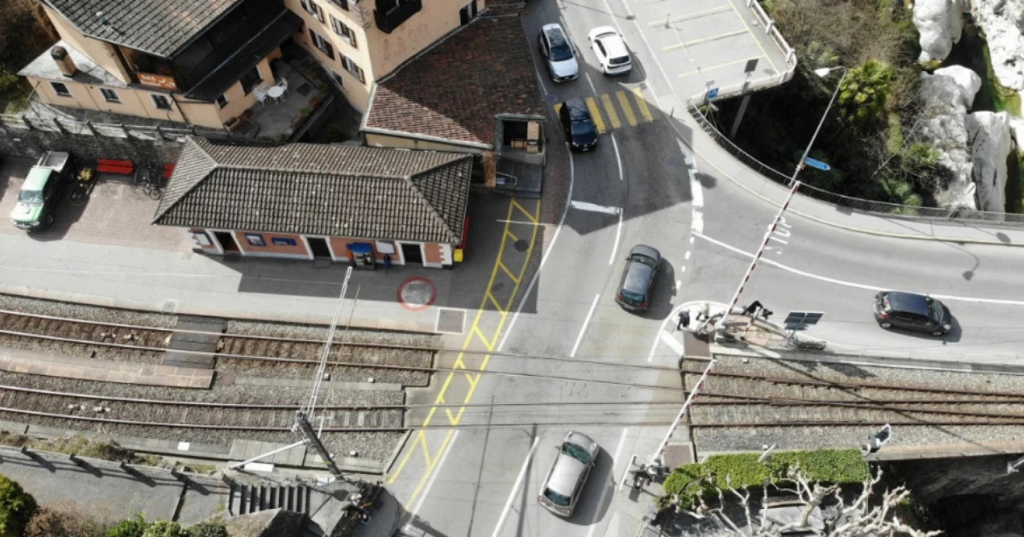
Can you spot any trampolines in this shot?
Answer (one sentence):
No, the picture doesn't show any trampoline.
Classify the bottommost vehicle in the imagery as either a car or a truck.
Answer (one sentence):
I'd say the bottommost vehicle is a car.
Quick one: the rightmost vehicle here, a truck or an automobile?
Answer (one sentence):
It turns out the rightmost vehicle is an automobile.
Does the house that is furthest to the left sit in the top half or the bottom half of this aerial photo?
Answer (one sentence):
The house that is furthest to the left is in the top half of the image.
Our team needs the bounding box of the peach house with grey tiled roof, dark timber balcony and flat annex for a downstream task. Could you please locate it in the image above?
[11,0,299,128]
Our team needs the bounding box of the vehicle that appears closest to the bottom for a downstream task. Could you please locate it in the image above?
[539,426,602,519]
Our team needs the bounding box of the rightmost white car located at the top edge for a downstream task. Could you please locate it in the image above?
[591,20,636,75]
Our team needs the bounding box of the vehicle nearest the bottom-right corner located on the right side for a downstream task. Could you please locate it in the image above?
[874,287,955,335]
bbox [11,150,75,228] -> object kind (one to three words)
vehicle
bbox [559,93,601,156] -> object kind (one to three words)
car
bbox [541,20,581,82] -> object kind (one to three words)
car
